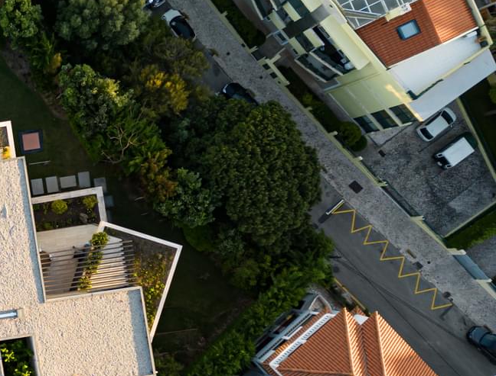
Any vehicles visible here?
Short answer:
Yes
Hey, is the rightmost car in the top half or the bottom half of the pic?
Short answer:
bottom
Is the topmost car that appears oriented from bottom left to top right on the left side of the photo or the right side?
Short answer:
right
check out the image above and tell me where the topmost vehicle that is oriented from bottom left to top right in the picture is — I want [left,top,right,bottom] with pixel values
[410,106,459,143]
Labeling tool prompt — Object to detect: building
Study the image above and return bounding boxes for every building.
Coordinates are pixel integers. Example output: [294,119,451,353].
[0,122,157,376]
[247,298,437,376]
[244,0,496,130]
